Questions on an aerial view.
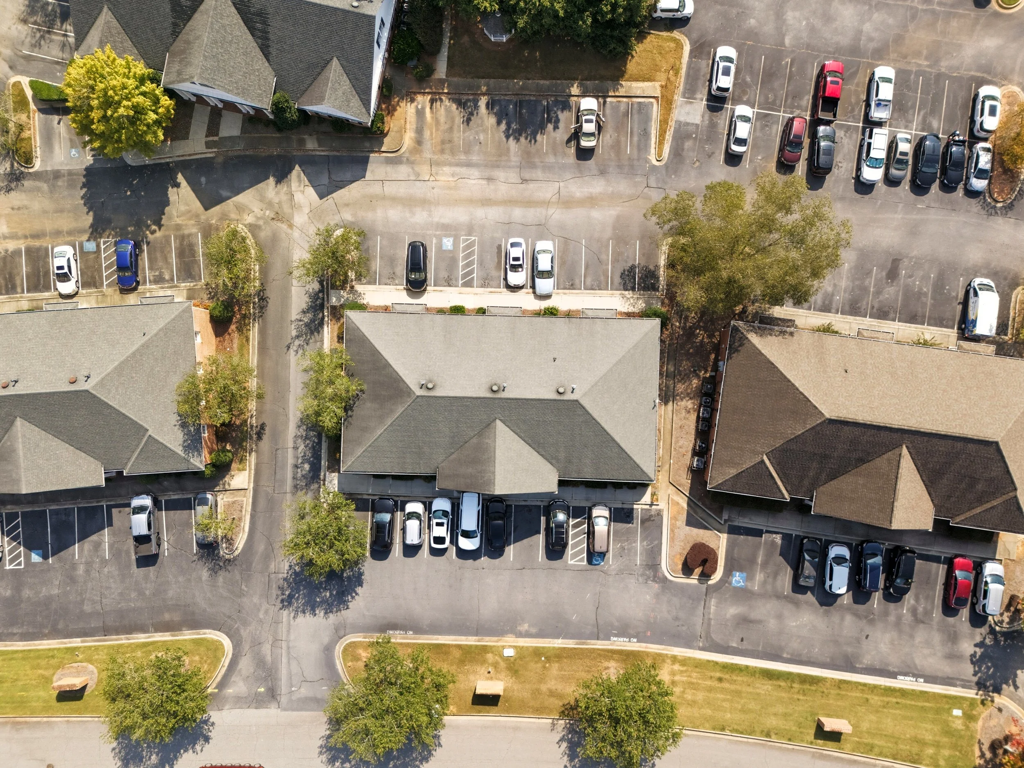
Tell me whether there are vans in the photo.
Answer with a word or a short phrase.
Yes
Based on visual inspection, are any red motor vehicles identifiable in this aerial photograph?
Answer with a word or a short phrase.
Yes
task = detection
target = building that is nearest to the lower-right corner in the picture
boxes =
[700,315,1024,535]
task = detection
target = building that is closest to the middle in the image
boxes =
[340,303,662,494]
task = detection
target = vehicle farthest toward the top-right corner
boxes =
[972,85,1005,138]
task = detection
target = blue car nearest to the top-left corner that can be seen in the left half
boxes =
[112,238,139,290]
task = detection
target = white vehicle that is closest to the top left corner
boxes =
[51,245,79,296]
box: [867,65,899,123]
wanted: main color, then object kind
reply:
white truck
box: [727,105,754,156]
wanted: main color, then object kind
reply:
white car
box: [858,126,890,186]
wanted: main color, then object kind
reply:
white car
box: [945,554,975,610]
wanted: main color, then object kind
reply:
red car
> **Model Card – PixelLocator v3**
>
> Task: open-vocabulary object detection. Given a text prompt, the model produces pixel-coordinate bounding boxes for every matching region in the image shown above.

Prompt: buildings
[700,315,1024,535]
[340,303,662,494]
[0,295,221,494]
[63,0,406,134]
